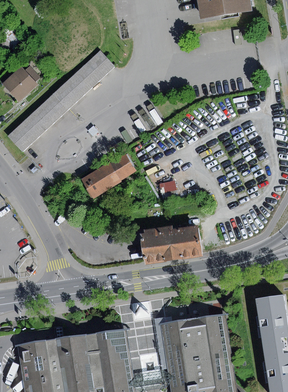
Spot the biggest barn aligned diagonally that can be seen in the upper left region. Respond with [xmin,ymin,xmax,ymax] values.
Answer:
[7,51,114,152]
